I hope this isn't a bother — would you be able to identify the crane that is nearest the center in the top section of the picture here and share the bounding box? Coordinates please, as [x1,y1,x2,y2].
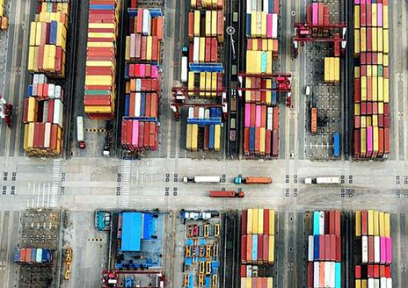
[169,88,229,125]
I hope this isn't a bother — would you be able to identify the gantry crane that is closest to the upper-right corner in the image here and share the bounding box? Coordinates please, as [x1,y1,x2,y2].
[293,21,349,62]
